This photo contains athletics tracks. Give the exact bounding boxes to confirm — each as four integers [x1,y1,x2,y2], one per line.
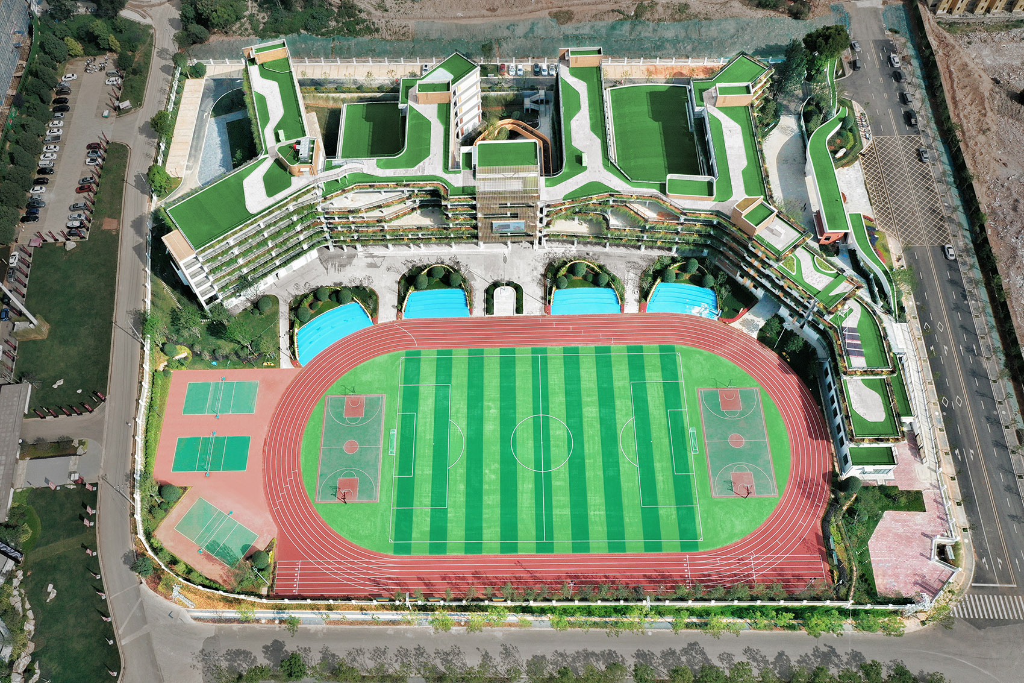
[263,315,837,597]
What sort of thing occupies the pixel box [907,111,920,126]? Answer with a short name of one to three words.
vehicle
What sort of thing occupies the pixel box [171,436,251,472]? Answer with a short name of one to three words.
sports court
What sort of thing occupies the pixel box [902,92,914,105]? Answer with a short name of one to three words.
vehicle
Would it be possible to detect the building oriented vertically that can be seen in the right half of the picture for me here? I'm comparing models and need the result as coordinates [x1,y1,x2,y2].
[799,106,849,245]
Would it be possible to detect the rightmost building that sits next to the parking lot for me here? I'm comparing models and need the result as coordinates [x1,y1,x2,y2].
[161,40,915,484]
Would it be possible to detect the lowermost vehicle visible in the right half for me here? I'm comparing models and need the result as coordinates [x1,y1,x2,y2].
[944,244,956,260]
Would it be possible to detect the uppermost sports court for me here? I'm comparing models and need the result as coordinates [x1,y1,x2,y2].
[182,381,259,415]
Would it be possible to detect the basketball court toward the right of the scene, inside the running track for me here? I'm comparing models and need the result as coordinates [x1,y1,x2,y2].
[697,388,779,498]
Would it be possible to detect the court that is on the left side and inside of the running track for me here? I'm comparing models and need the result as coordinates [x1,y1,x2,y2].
[313,394,387,504]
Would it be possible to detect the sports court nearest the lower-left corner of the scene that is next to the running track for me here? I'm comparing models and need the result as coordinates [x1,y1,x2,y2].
[174,497,259,568]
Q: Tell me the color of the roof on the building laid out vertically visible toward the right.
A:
green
